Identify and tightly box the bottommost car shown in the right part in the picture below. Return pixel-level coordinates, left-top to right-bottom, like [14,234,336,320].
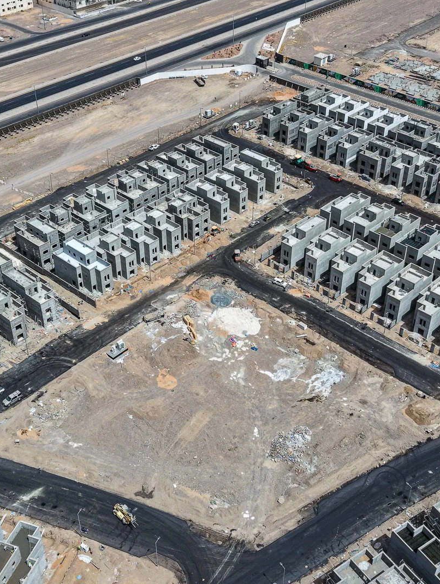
[271,275,288,287]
